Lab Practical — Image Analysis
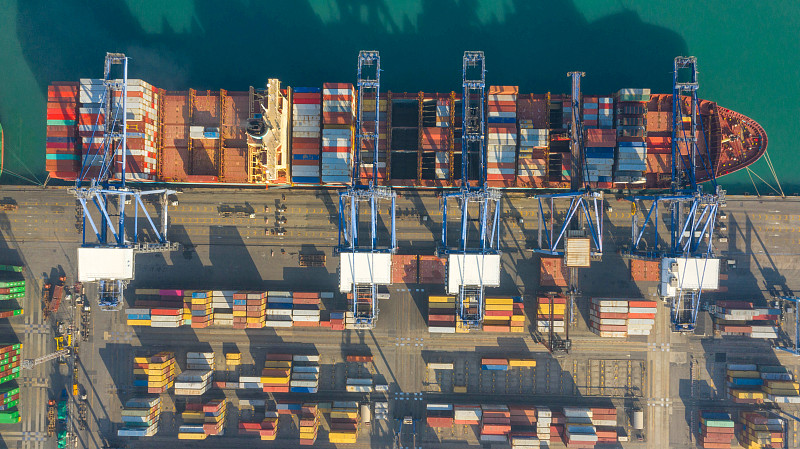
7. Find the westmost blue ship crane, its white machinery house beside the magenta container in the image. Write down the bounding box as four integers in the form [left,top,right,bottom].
[70,54,184,310]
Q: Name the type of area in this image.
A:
port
